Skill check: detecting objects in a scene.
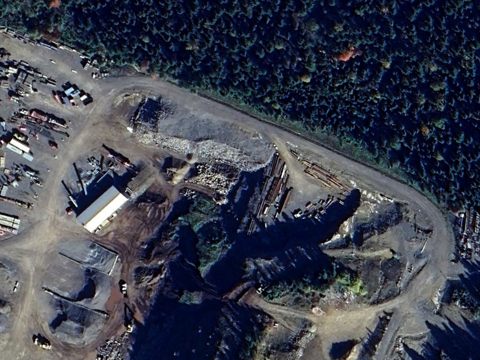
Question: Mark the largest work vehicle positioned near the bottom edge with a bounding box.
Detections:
[31,335,50,349]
